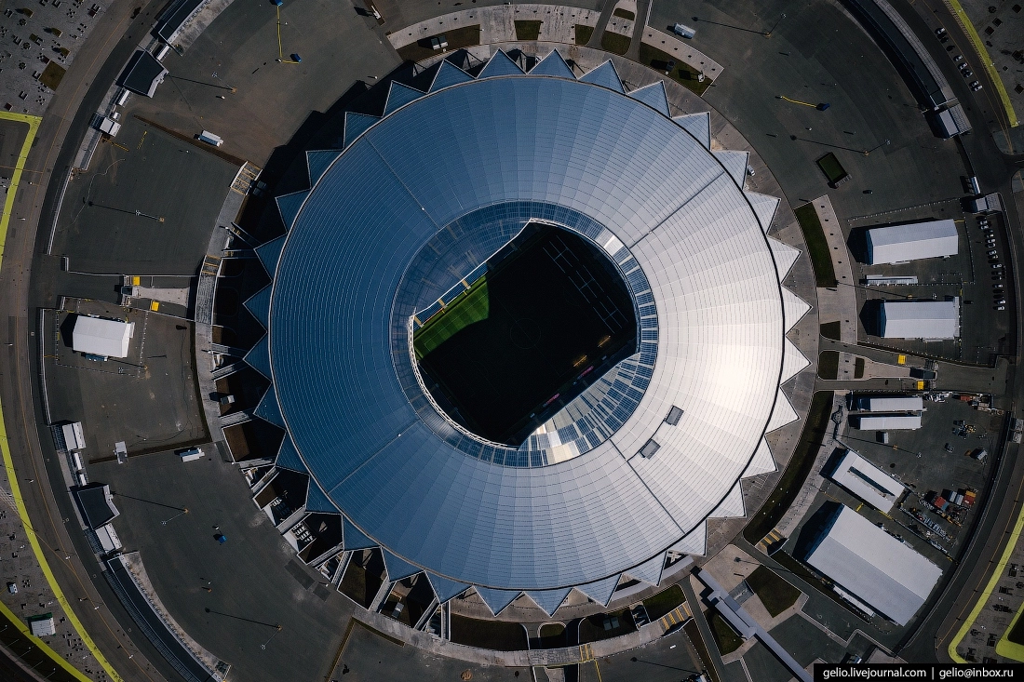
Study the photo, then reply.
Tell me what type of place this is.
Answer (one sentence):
The picture captures a sports ground.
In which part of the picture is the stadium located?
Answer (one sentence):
The stadium appears toward the center of the photo.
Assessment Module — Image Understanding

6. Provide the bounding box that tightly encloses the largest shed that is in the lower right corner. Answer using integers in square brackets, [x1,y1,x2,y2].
[803,503,942,626]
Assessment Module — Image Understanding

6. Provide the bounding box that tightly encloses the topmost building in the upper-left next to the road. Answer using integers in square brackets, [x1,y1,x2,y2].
[149,0,215,46]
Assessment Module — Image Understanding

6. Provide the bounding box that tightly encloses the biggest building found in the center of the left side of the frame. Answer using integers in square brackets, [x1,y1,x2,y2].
[71,315,136,363]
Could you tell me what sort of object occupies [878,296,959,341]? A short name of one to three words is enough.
building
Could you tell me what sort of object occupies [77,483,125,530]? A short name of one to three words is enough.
building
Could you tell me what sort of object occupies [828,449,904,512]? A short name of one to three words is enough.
shed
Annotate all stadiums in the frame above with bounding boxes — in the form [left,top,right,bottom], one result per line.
[241,48,810,618]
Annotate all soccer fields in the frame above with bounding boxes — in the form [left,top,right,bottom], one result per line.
[413,223,639,442]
